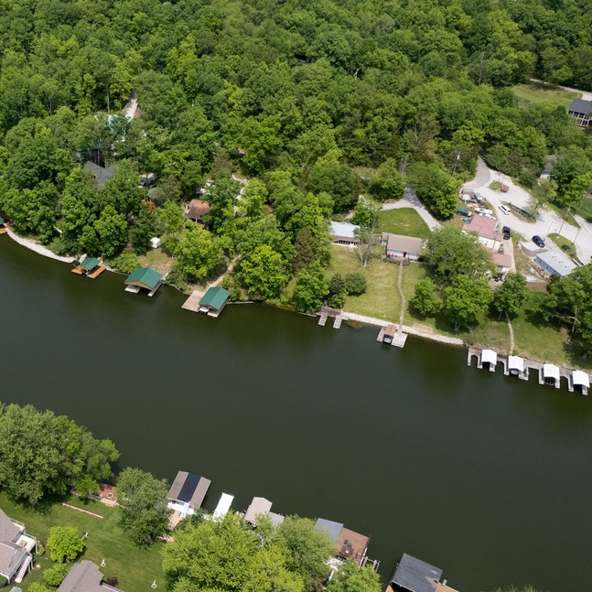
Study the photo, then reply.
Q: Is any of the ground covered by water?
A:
Yes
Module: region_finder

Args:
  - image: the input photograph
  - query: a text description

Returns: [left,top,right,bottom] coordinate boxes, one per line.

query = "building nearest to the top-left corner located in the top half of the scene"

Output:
[80,161,112,186]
